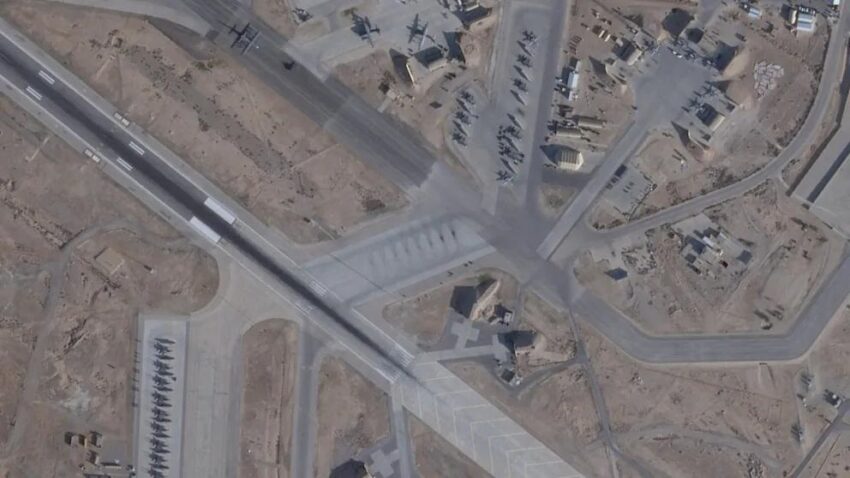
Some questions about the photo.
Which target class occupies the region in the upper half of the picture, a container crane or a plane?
plane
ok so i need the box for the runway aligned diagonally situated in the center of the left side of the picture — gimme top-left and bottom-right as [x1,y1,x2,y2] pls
[0,30,413,382]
